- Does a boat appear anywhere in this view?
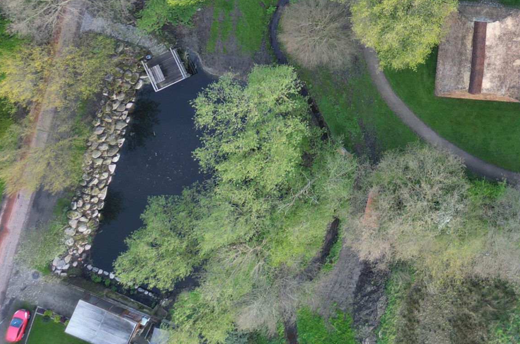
No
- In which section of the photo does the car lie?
bottom left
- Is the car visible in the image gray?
No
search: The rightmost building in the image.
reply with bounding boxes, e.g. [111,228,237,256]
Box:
[435,3,520,101]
